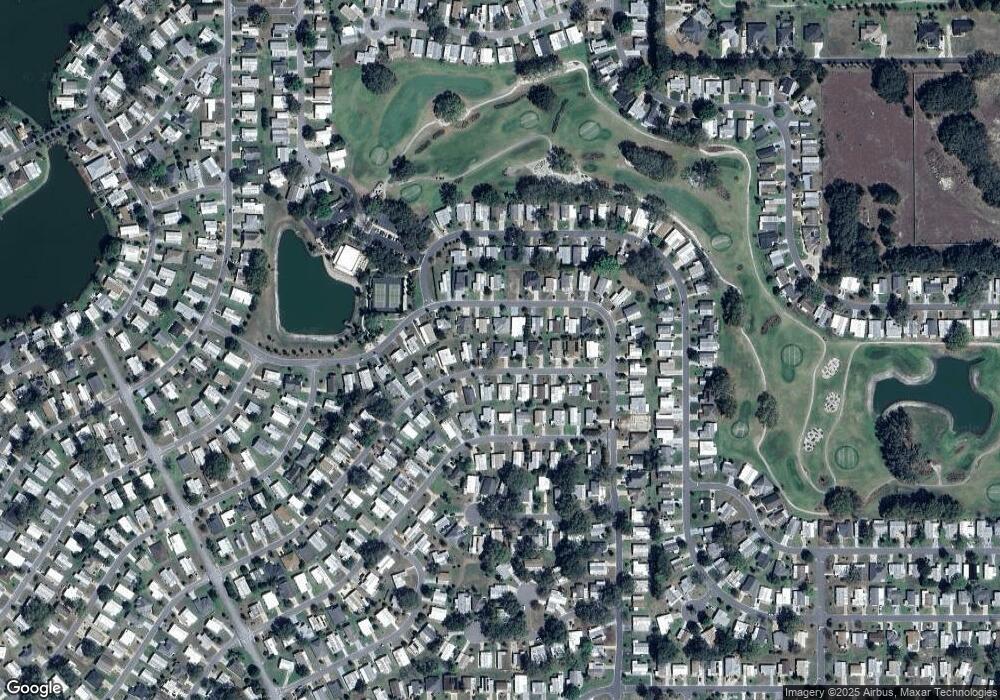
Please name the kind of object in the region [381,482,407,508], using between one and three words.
house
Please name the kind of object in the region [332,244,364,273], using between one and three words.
building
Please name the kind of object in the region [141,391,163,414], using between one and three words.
house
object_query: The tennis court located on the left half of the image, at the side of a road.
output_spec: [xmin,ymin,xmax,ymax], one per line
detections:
[372,277,406,310]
